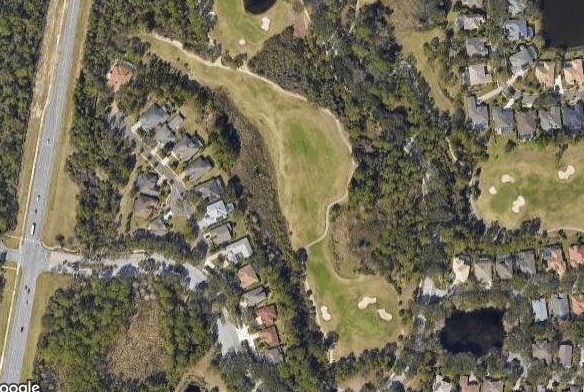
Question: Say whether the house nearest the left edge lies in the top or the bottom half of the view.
top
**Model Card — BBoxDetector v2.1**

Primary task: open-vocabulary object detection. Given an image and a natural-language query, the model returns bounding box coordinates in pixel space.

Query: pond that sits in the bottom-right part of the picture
[438,307,506,356]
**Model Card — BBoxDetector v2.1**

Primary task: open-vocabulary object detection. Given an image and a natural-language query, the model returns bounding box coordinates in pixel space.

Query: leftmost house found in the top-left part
[105,60,135,84]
